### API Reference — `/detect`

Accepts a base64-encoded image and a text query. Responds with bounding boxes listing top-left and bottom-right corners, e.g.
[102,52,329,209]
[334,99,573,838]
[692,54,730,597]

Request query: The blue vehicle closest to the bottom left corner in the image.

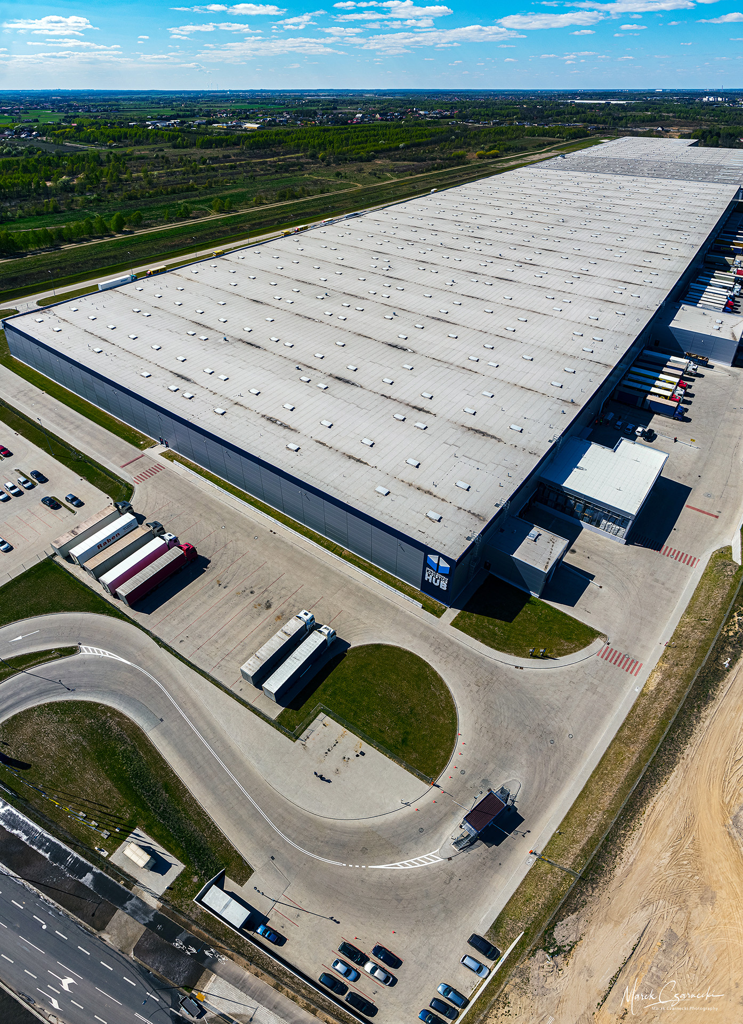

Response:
[258,922,283,946]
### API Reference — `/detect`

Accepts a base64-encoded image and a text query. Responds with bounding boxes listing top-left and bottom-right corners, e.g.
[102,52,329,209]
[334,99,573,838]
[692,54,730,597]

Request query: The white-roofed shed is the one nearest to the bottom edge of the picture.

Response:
[204,886,253,932]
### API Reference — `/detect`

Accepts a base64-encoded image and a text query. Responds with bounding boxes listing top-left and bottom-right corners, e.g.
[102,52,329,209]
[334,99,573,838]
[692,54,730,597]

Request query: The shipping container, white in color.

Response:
[123,840,155,873]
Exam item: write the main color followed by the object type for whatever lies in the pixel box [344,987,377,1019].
black car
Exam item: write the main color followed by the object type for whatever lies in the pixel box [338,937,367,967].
black car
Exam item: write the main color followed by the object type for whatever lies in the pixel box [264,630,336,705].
white truck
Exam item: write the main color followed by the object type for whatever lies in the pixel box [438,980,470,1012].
blue car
